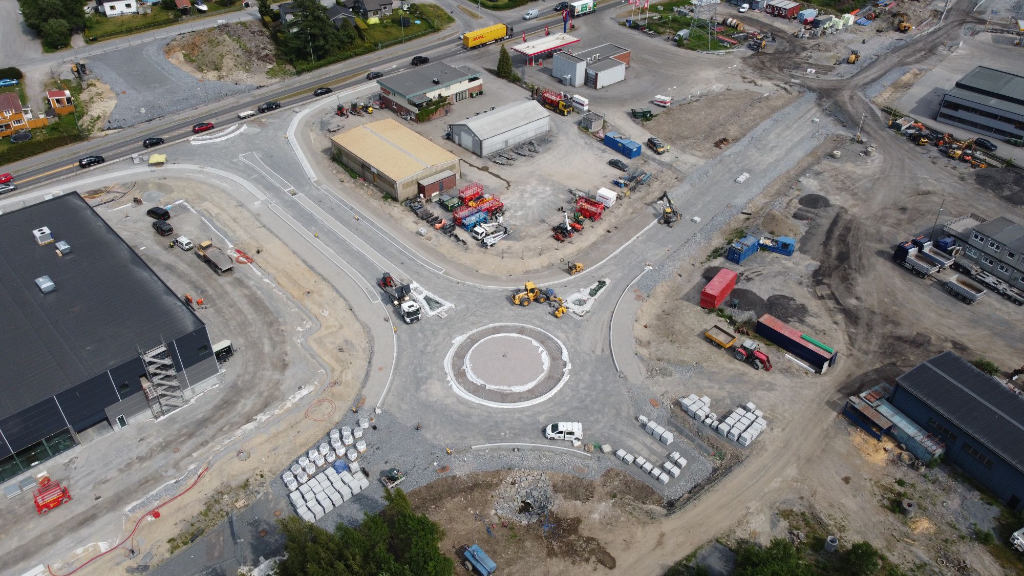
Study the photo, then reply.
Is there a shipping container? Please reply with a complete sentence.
Yes, you can see a shipping container in this photo.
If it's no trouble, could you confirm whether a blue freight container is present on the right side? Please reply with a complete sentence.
Yes, there is a blue freight container on the right side.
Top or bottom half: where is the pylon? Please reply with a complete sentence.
You can find the pylon in the top half.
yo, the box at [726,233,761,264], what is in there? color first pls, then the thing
blue shipping container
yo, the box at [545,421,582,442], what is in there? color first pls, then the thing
white vehicle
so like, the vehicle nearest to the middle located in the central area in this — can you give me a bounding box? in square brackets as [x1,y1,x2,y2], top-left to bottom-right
[511,284,552,307]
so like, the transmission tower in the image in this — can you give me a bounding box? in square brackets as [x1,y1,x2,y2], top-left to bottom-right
[684,0,717,50]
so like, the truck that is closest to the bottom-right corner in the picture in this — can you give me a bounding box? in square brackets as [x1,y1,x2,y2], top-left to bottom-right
[997,525,1024,567]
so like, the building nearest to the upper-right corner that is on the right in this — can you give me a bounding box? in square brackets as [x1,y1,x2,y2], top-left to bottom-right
[936,68,1024,145]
